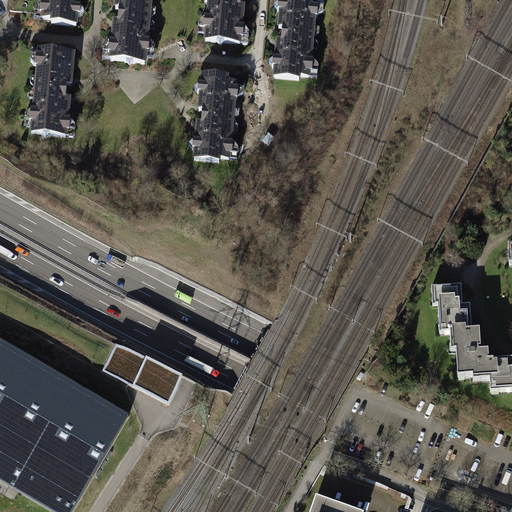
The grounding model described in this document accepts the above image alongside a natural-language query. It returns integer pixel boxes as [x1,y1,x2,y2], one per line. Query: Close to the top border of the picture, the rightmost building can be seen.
[268,0,320,79]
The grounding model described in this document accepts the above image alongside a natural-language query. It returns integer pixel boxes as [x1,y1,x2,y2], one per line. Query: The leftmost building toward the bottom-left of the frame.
[0,338,130,512]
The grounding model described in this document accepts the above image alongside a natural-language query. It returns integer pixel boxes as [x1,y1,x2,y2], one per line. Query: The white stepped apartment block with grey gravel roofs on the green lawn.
[430,282,512,395]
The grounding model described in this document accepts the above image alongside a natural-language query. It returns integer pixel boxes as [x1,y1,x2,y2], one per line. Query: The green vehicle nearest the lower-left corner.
[174,291,193,306]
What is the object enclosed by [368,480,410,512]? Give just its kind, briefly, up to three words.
building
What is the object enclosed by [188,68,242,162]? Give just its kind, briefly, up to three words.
house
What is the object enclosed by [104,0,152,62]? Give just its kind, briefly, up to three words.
house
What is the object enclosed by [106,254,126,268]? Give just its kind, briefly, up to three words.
vehicle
